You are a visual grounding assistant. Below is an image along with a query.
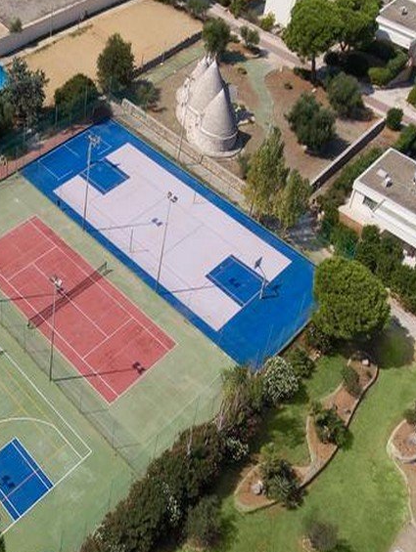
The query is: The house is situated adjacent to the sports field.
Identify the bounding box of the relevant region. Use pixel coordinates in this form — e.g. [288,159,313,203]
[172,56,236,158]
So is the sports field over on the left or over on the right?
left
